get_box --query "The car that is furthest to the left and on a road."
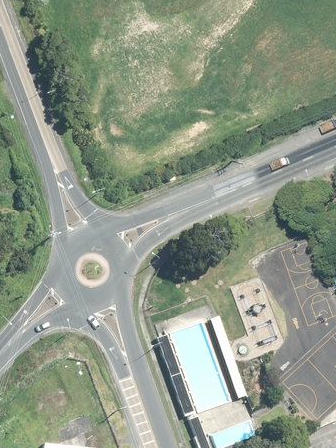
[34,320,50,332]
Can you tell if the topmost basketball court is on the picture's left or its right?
right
